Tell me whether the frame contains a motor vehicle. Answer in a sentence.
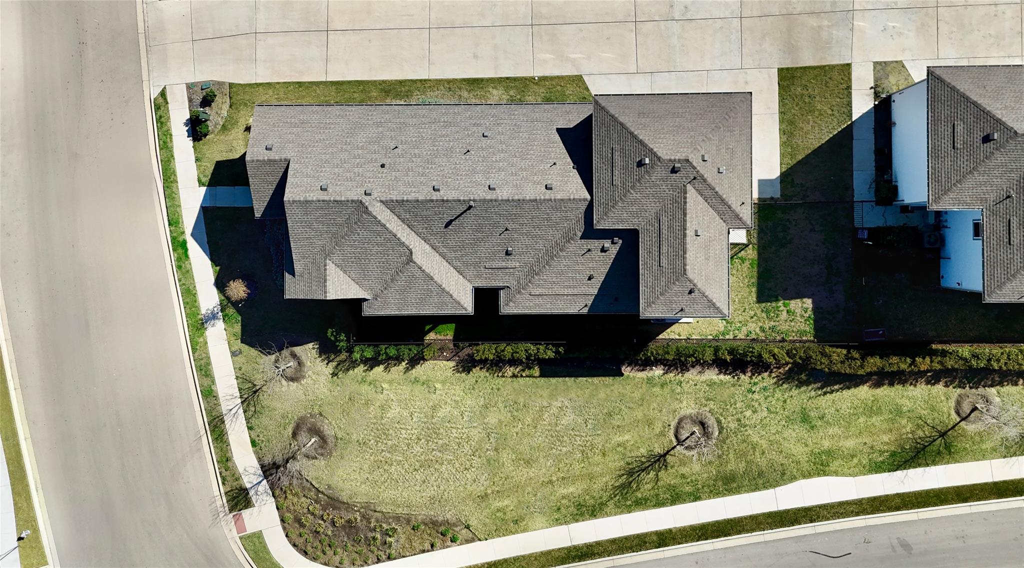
No, I can see no motor vehicle in this picture.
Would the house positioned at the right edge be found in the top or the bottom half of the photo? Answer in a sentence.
Seen from above, the house positioned at the right edge lies in the top half of the view.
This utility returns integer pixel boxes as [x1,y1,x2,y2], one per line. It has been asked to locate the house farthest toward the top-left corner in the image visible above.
[246,93,753,318]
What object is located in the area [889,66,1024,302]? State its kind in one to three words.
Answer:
house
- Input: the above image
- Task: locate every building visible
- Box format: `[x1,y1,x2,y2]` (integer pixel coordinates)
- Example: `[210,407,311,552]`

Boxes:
[246,93,753,318]
[889,66,1024,302]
